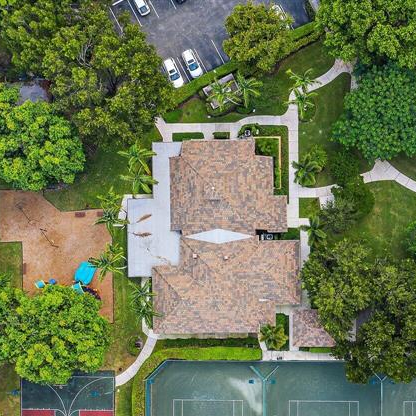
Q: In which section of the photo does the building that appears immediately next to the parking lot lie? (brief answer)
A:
center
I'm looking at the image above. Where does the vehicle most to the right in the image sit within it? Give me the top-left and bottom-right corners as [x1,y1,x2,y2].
[181,45,204,78]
